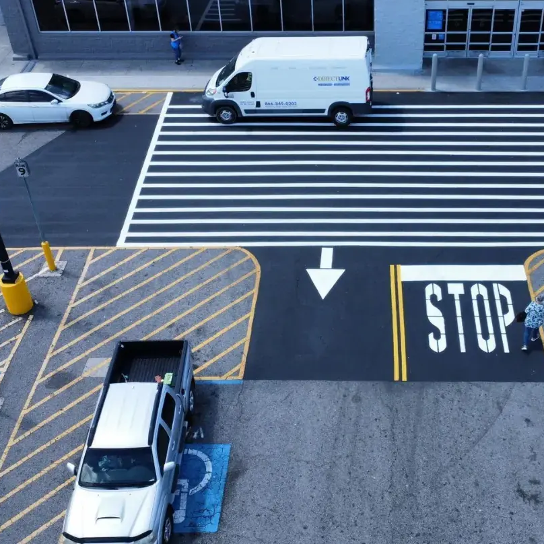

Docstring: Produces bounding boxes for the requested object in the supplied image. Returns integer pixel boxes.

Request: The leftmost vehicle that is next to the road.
[0,69,119,128]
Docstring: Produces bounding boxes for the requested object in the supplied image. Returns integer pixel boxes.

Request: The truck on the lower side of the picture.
[56,338,203,544]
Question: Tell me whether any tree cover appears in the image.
No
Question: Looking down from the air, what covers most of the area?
paved ground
